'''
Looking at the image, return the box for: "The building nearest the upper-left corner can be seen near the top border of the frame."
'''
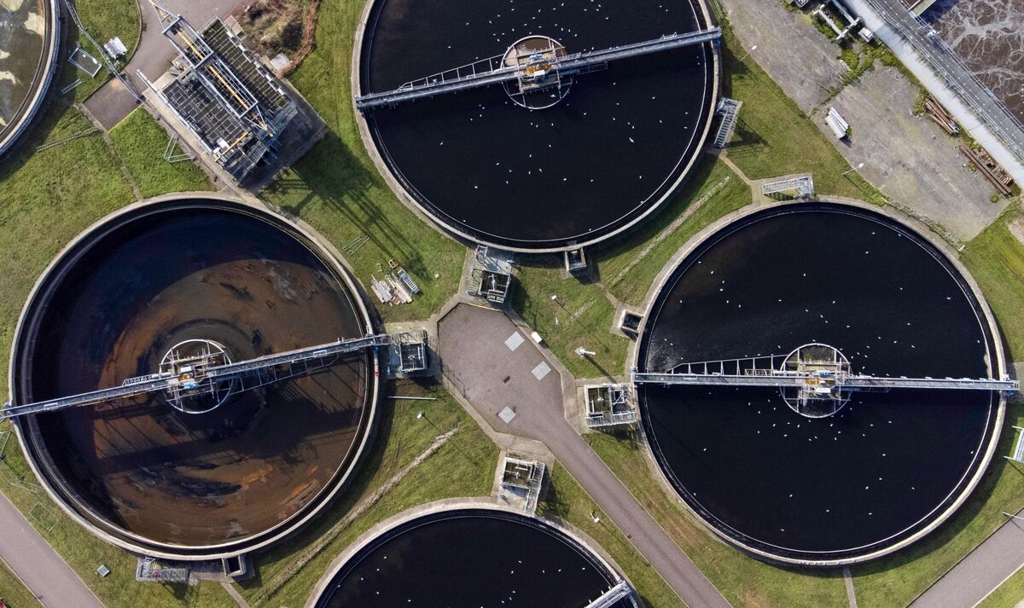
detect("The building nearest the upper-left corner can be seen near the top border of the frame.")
[136,0,309,187]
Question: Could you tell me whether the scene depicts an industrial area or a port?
industrial area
